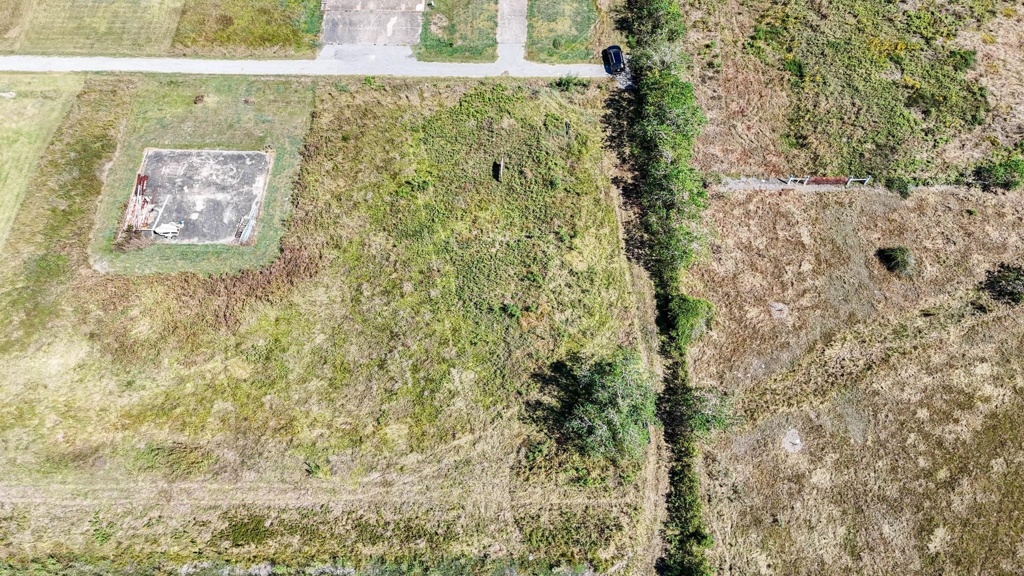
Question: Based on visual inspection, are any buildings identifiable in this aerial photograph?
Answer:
No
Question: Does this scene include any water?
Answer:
No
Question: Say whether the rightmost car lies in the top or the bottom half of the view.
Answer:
top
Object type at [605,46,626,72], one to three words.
car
